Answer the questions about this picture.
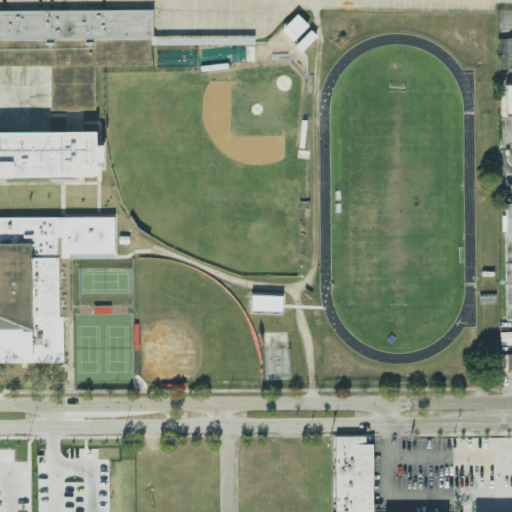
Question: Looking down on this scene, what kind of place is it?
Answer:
sports ground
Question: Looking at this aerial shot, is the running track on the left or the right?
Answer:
right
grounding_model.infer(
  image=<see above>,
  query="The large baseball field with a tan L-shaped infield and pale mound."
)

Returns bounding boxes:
[106,66,302,276]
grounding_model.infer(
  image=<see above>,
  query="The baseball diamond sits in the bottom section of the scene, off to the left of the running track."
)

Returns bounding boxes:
[134,258,262,389]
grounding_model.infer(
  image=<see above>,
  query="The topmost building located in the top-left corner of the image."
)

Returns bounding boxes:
[0,8,154,46]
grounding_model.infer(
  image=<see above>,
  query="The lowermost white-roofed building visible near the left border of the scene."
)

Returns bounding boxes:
[0,216,116,364]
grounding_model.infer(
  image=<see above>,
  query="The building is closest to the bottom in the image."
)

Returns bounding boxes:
[332,437,374,512]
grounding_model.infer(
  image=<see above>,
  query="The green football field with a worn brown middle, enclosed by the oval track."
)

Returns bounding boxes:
[332,45,464,352]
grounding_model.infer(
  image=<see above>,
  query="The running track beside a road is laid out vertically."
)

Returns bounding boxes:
[320,34,476,364]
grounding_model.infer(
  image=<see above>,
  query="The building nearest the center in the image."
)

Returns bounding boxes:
[252,295,284,314]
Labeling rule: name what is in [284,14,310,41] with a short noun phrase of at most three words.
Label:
shed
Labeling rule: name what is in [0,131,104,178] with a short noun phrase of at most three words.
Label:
building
